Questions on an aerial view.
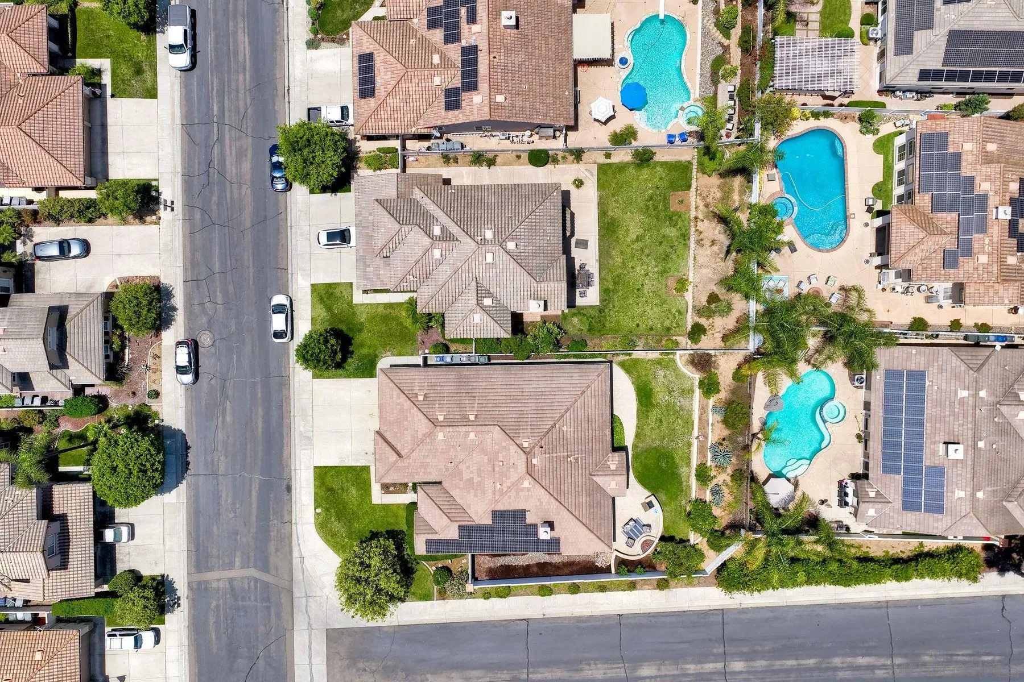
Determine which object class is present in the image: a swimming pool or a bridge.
swimming pool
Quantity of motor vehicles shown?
9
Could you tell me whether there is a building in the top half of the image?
Yes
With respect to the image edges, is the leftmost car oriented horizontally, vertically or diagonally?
horizontally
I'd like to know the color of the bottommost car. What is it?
white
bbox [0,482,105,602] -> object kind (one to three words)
house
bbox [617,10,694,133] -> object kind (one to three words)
swimming pool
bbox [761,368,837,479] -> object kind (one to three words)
swimming pool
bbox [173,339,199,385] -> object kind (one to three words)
car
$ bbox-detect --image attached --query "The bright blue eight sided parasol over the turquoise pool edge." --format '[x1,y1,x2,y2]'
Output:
[620,84,647,111]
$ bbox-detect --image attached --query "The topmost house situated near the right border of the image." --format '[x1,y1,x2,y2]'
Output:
[862,0,1024,102]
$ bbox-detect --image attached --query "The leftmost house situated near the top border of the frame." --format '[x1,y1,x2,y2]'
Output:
[0,3,94,187]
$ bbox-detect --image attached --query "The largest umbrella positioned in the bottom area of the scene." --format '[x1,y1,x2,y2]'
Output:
[762,476,793,507]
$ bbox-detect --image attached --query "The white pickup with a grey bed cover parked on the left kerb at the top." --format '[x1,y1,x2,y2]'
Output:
[167,4,195,72]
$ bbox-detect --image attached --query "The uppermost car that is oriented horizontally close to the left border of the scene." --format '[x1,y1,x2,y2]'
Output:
[32,236,88,260]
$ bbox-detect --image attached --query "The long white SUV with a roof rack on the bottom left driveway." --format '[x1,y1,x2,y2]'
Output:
[103,626,160,653]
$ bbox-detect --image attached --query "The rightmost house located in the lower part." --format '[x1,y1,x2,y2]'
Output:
[847,344,1024,537]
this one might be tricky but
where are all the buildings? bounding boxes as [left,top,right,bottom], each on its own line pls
[0,3,94,187]
[0,625,91,682]
[0,482,105,602]
[374,362,628,555]
[868,116,1024,305]
[862,0,1024,102]
[350,0,574,136]
[0,264,114,391]
[847,344,1024,537]
[354,172,571,340]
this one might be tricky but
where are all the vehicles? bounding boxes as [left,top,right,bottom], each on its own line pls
[32,236,88,260]
[315,225,356,249]
[307,102,354,127]
[98,522,136,546]
[173,339,199,385]
[269,294,293,342]
[103,626,160,653]
[268,144,292,192]
[167,4,195,72]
